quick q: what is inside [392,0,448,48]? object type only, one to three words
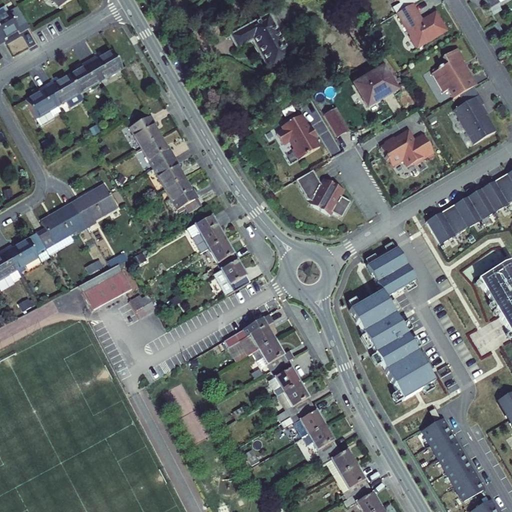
house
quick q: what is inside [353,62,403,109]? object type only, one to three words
house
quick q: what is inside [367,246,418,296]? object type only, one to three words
building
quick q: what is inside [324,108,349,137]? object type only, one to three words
building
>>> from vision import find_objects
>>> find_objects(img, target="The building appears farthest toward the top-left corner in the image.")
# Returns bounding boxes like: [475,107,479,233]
[0,6,30,56]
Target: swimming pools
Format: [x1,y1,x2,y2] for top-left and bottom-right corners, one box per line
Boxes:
[314,92,325,103]
[324,86,336,100]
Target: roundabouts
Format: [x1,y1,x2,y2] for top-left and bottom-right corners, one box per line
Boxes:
[252,212,356,346]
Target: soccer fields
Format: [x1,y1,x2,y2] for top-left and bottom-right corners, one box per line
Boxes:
[0,322,185,512]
